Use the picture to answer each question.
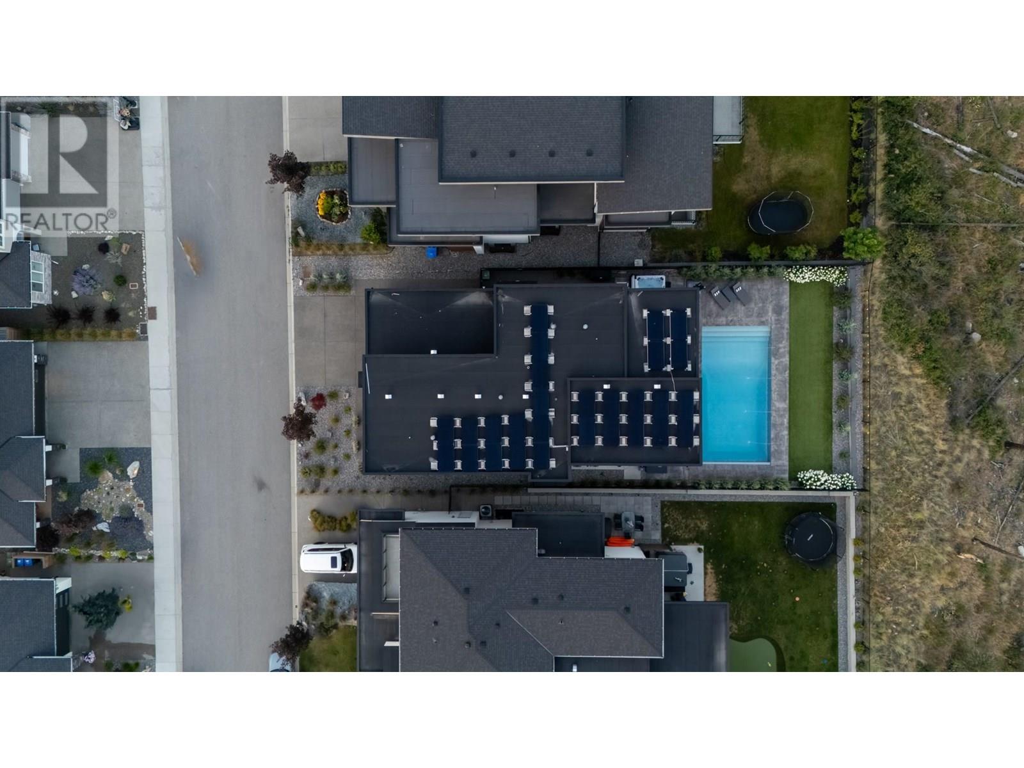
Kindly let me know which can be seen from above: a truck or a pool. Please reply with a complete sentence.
Of the two, only a pool appears.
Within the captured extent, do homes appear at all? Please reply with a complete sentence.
Yes, this view includes a home.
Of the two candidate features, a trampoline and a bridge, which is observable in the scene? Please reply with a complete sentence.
The image shows a trampoline.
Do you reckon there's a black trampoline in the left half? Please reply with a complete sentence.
No, there's no black trampoline to be seen in the left half.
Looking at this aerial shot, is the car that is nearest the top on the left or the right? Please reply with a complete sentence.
The car that is nearest the top sits on the left side.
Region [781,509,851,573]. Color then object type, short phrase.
black trampoline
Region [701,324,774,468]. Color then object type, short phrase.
blue swimming pool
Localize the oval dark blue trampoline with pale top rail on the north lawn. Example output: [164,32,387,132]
[746,187,818,239]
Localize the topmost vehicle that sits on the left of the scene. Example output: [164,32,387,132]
[299,544,358,580]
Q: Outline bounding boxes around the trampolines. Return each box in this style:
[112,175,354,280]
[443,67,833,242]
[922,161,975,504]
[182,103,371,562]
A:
[746,187,818,239]
[781,509,851,573]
